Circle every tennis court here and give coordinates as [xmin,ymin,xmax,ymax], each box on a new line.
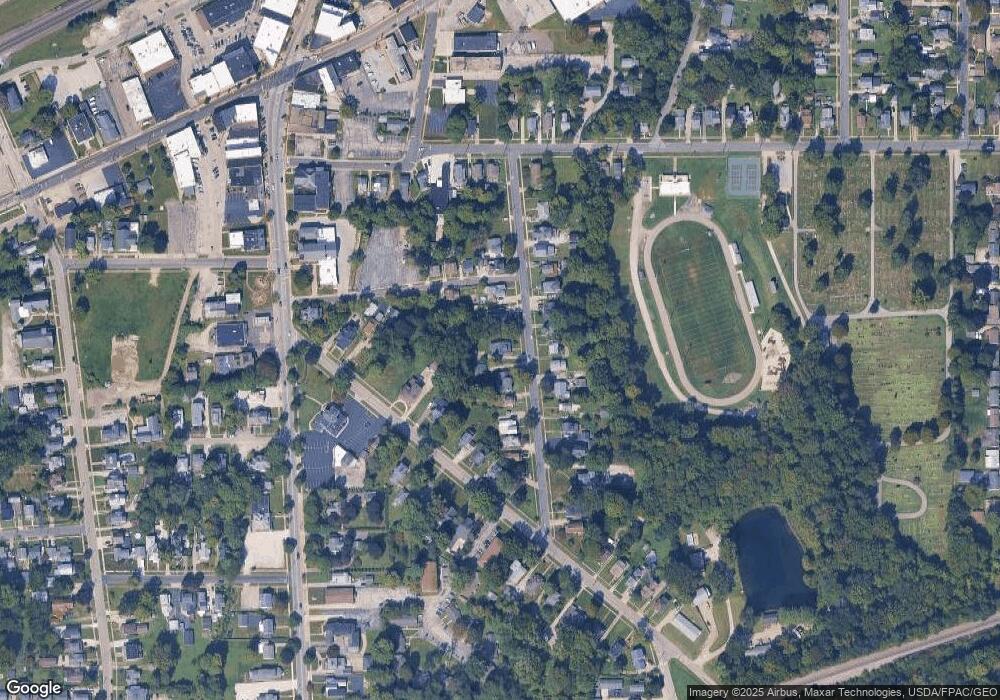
[744,155,761,196]
[728,155,744,196]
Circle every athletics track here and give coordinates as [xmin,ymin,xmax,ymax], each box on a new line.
[645,215,761,405]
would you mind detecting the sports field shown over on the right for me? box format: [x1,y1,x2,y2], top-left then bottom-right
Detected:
[662,241,751,374]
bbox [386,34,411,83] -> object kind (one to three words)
building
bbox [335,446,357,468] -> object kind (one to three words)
building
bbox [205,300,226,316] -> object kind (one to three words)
house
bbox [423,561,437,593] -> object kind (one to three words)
house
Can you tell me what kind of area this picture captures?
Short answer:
residential area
